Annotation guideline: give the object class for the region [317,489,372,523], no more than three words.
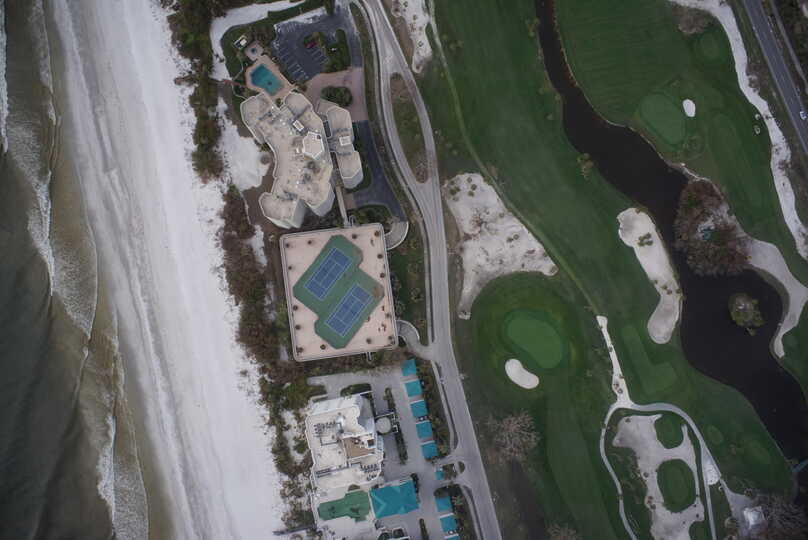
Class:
swimming pool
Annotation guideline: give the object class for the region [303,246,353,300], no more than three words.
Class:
tennis court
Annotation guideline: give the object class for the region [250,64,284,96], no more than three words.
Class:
swimming pool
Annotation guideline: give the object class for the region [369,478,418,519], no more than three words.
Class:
building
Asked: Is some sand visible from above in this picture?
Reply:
Yes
